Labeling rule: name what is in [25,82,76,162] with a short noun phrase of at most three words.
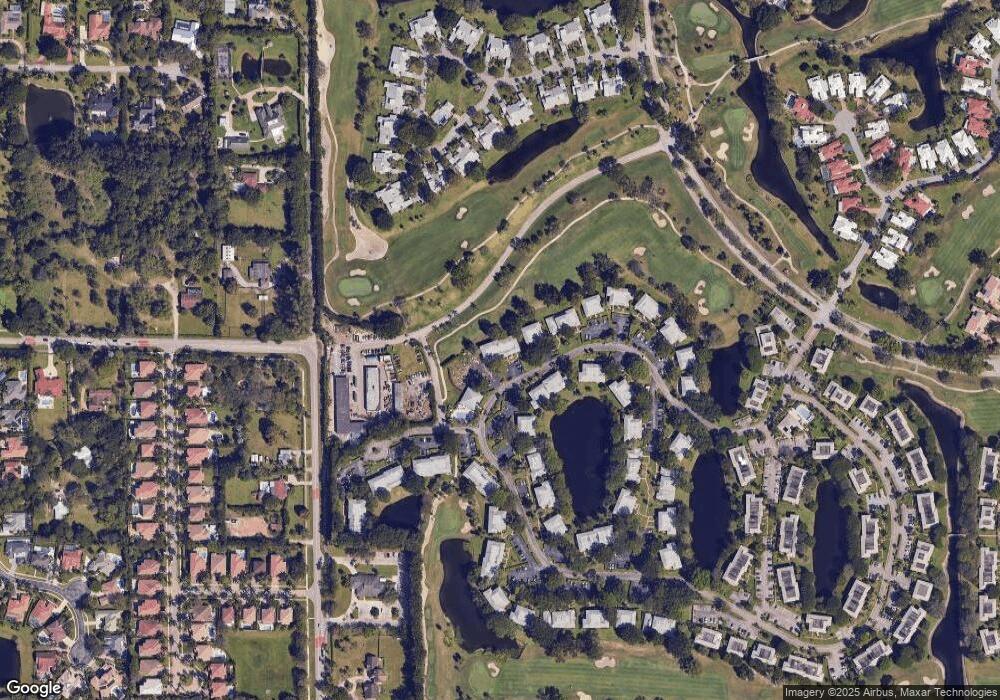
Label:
pond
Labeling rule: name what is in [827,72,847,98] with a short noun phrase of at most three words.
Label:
house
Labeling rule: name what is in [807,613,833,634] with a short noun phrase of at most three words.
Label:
building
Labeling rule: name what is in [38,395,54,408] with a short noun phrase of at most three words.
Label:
swimming pool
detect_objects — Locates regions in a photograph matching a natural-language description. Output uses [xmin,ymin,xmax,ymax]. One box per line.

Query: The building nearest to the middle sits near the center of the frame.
[480,334,521,361]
